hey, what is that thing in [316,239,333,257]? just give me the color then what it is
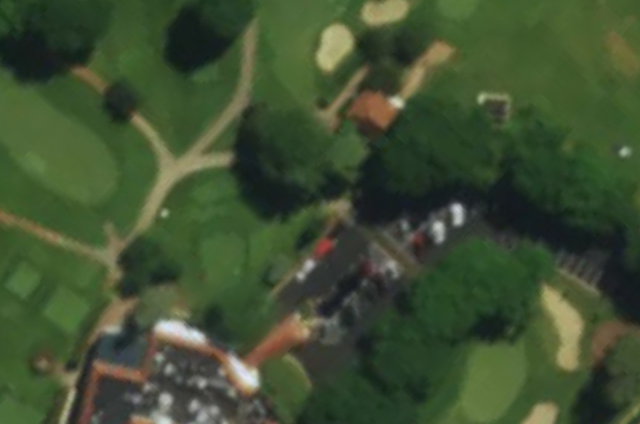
red car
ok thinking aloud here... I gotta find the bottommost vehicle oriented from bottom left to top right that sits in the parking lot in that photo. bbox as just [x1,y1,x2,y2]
[297,261,313,279]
